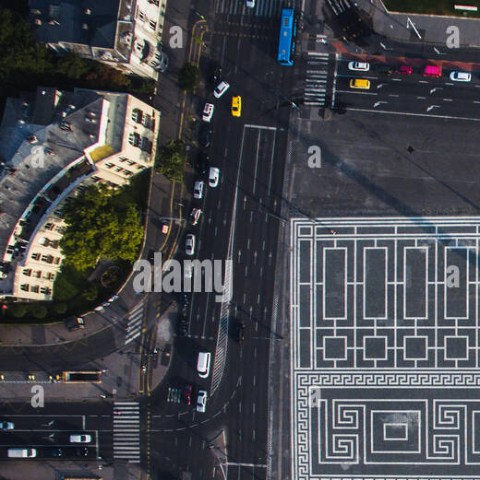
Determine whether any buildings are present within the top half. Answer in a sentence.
Yes, there is a building within the top half.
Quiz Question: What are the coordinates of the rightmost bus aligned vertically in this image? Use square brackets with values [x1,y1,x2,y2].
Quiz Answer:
[277,8,300,70]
